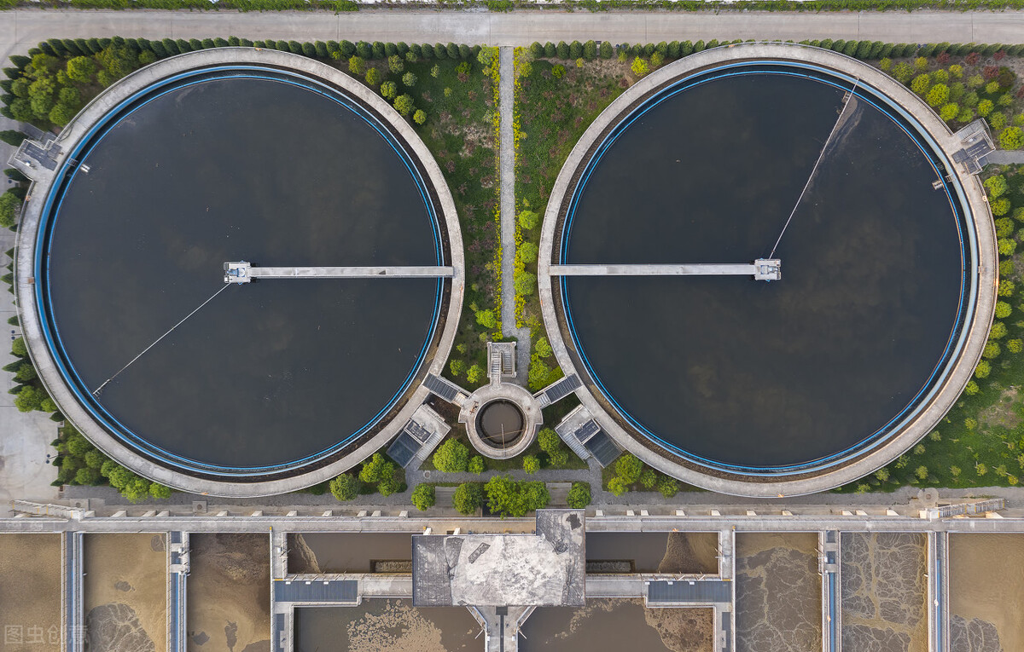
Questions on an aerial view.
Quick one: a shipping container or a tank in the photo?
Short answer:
tank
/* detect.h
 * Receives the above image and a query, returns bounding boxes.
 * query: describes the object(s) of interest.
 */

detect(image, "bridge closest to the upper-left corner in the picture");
[253,266,454,278]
